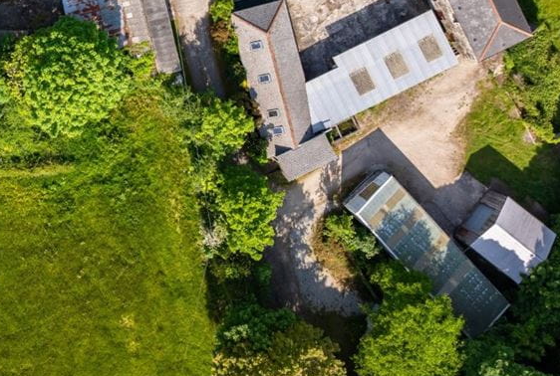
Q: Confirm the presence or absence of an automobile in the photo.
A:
No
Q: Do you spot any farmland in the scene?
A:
Yes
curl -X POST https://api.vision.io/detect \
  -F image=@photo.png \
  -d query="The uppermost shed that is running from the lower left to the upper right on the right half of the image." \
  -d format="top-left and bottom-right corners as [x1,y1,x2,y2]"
[303,9,458,132]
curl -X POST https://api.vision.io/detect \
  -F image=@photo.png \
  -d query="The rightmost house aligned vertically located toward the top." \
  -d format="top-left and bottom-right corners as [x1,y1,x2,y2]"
[230,0,314,159]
